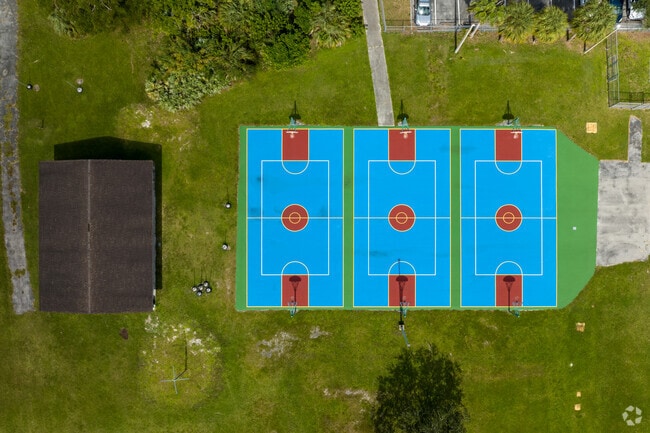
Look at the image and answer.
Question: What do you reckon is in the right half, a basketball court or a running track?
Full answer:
What appears in the right half is a basketball court.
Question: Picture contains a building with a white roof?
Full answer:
No, the frame has no building with a white roof in it.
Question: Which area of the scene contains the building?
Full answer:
The building appears toward the left of the photo.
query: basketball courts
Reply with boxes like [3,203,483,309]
[354,128,451,307]
[247,128,344,307]
[460,128,557,307]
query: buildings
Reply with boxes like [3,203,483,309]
[39,159,158,314]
